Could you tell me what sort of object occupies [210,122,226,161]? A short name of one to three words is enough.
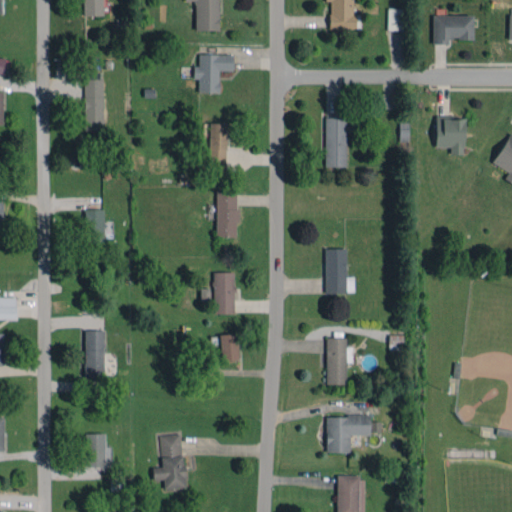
house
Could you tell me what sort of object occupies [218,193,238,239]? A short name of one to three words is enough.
house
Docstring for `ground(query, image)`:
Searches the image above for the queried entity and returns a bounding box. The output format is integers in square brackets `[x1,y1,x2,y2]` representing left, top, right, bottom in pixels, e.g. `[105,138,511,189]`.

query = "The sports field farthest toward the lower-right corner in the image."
[446,460,512,512]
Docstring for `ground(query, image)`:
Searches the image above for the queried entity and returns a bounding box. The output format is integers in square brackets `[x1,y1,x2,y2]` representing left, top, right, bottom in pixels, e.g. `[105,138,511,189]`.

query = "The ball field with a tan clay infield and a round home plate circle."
[454,275,512,432]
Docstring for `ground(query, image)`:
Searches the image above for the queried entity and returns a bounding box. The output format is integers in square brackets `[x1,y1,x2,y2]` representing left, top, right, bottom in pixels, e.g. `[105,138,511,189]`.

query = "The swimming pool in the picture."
[360,355,378,371]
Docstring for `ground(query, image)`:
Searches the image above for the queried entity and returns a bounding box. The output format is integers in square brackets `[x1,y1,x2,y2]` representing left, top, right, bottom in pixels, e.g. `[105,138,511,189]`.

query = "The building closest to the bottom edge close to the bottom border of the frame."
[338,476,366,512]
